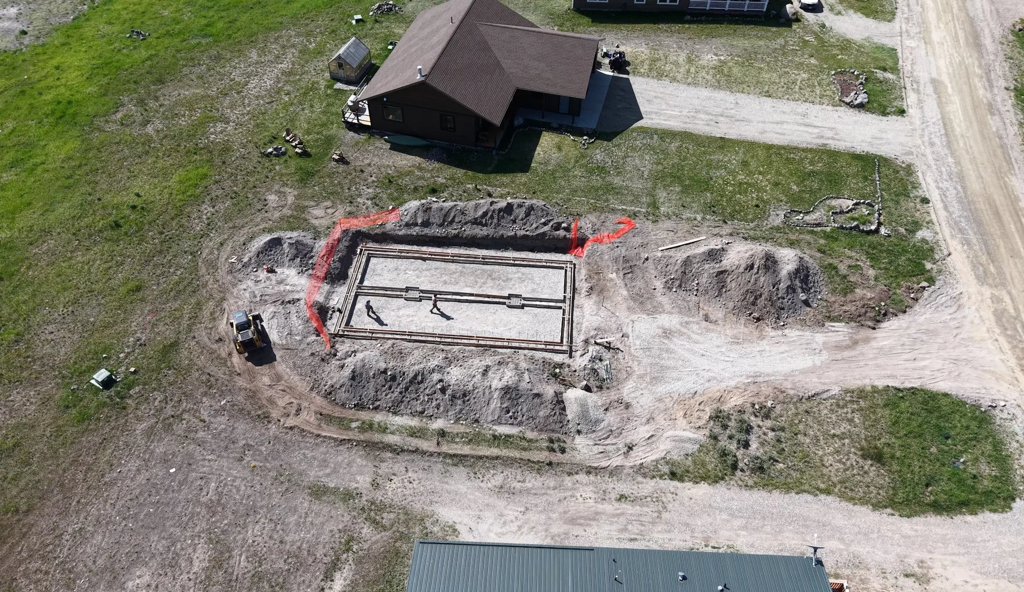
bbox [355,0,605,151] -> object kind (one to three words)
house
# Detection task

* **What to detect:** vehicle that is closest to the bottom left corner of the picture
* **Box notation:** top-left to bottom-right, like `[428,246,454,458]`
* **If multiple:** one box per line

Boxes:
[219,306,266,355]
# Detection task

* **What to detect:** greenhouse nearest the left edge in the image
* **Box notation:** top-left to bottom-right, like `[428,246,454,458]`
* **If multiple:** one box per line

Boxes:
[324,30,368,83]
